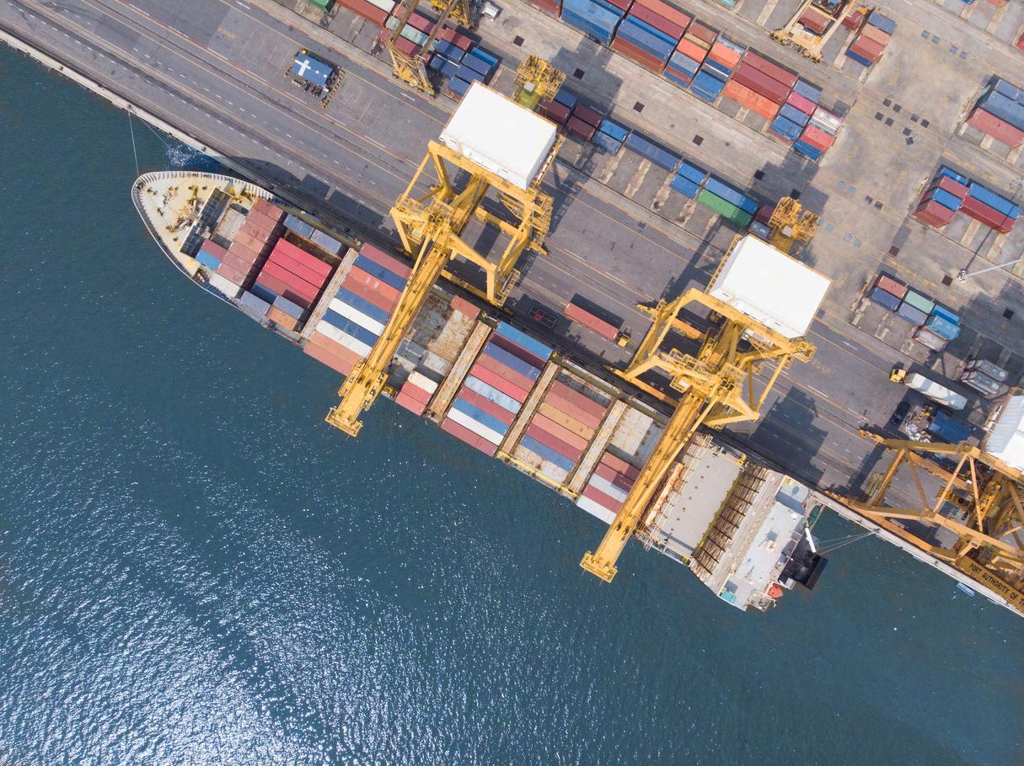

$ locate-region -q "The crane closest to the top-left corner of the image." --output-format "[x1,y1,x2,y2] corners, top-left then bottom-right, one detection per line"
[379,0,480,101]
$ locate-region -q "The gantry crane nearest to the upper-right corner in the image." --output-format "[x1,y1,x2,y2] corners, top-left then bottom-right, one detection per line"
[768,0,860,64]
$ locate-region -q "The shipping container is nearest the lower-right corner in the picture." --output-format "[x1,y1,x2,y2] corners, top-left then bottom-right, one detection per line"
[907,374,966,410]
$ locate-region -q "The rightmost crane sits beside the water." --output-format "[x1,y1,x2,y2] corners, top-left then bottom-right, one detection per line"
[818,367,1024,610]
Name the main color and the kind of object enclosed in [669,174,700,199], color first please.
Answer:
blue shipping container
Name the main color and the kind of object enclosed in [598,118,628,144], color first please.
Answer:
blue shipping container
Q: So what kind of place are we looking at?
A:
port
